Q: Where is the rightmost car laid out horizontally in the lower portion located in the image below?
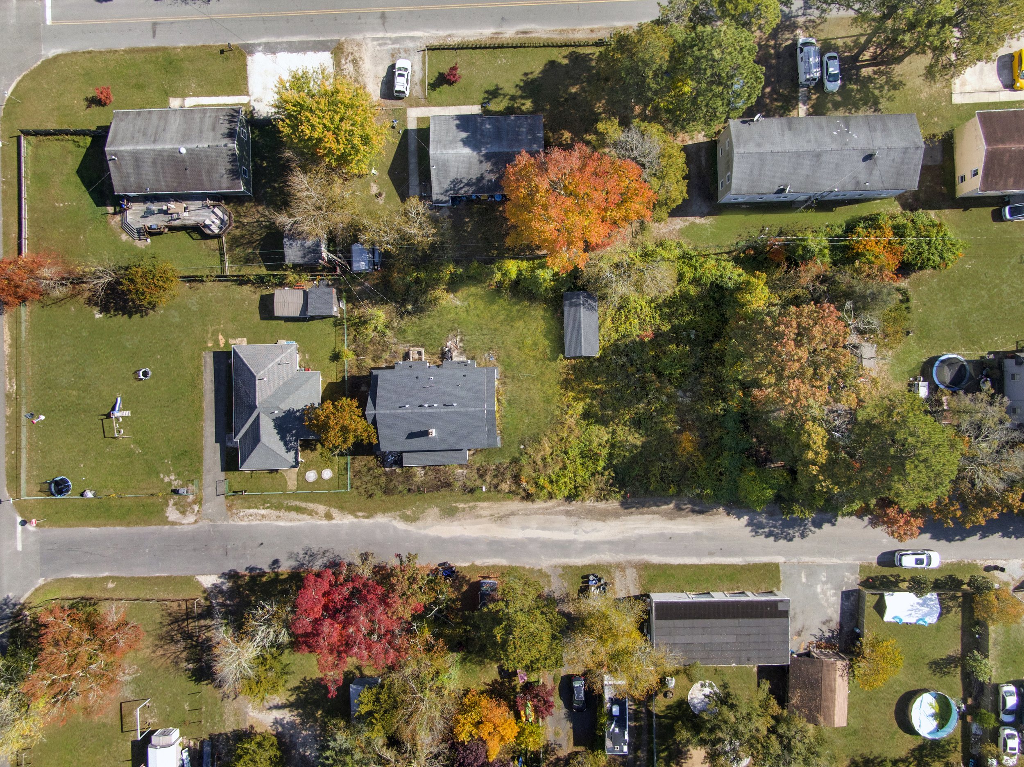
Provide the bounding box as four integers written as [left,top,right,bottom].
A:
[893,549,939,570]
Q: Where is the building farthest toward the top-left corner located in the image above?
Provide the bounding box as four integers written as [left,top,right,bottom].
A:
[105,107,250,196]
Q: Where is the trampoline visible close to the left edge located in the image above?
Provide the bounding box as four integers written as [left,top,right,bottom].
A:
[42,477,73,499]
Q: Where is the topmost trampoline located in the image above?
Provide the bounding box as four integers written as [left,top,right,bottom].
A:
[930,353,980,391]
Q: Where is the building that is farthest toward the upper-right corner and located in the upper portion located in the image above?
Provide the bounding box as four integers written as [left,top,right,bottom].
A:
[955,110,1024,199]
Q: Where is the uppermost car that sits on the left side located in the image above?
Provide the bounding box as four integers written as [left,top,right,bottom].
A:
[392,59,413,100]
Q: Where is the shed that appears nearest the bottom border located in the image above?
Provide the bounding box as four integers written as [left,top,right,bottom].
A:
[149,726,190,767]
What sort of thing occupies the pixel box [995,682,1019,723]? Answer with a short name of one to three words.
car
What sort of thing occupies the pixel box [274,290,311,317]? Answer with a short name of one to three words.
shed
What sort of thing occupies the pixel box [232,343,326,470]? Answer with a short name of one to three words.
house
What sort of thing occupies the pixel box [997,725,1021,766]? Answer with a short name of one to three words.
car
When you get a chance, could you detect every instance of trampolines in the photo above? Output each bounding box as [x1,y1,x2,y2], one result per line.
[42,477,73,499]
[930,353,980,391]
